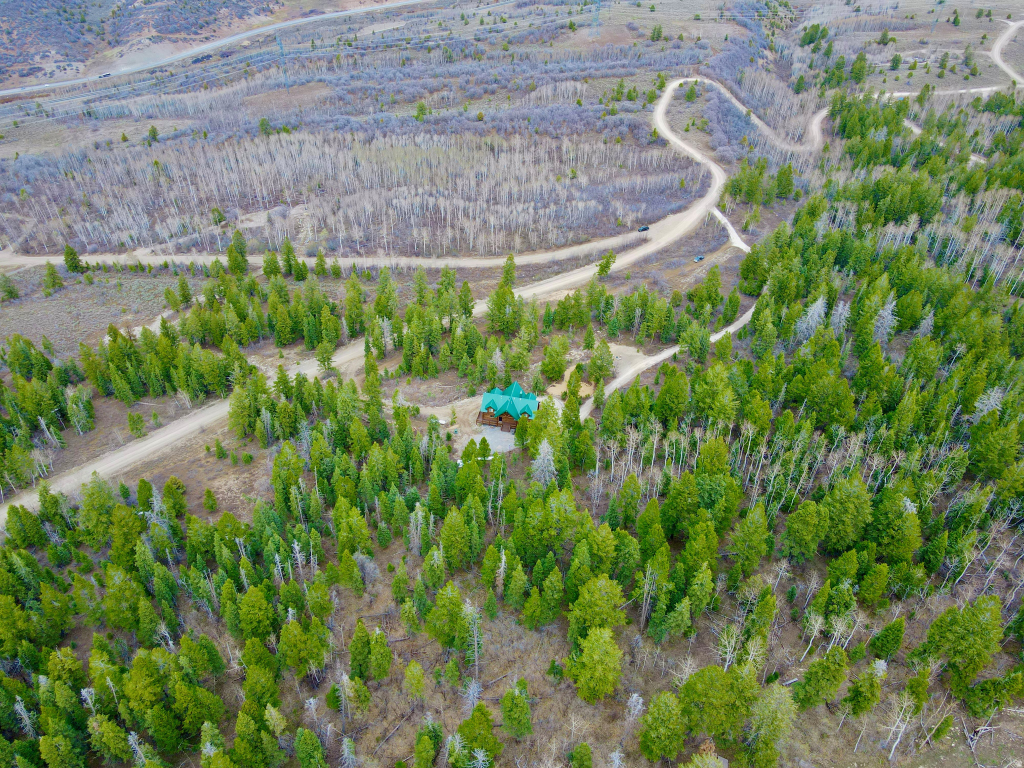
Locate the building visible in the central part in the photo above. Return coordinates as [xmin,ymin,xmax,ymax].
[473,383,540,438]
